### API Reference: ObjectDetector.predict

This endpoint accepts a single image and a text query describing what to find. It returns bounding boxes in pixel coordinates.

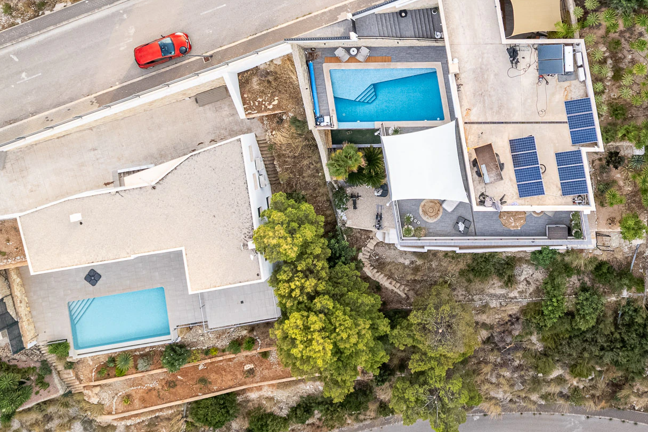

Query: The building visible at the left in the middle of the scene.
[19,134,269,293]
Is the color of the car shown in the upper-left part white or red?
red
